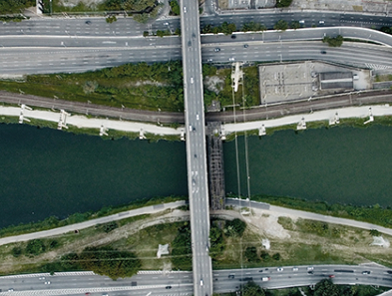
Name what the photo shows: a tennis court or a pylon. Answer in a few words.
pylon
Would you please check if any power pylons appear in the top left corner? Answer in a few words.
No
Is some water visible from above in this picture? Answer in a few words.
Yes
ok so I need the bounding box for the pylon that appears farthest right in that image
[368,234,392,251]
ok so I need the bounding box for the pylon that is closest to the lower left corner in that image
[157,243,170,262]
